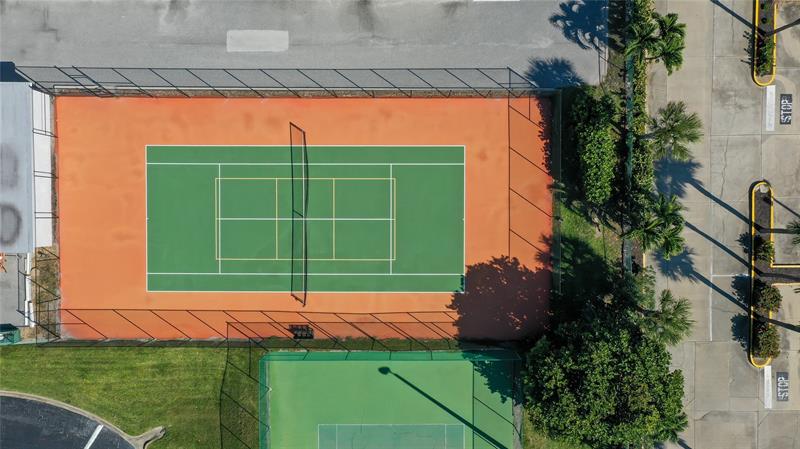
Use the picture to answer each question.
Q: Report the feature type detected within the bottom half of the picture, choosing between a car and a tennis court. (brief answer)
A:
tennis court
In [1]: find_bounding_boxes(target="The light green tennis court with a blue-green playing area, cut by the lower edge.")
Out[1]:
[269,351,514,449]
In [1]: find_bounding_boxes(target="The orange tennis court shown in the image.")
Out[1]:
[56,96,553,339]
